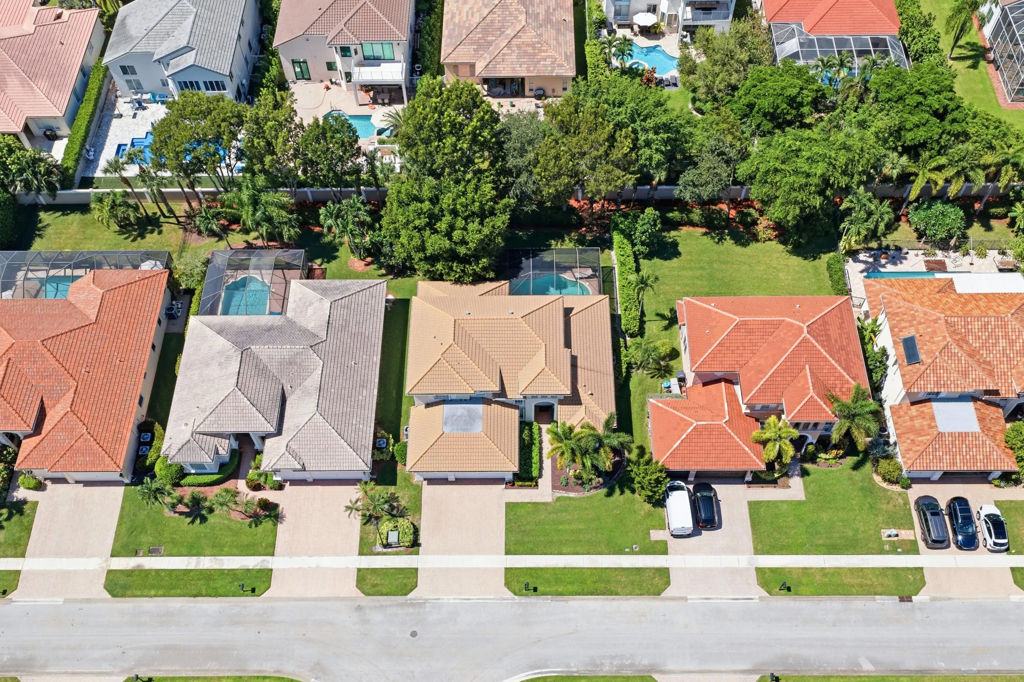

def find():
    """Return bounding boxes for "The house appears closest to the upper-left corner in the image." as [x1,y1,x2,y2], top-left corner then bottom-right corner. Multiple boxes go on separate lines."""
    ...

[0,0,103,143]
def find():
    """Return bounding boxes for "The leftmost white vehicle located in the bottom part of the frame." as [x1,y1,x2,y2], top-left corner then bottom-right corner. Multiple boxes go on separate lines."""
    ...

[665,485,692,540]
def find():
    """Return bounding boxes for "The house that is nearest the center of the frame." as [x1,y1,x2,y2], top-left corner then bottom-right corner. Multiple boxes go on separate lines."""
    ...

[404,279,618,482]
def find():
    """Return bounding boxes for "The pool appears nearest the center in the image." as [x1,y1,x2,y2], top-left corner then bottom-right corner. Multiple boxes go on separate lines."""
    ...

[509,272,594,295]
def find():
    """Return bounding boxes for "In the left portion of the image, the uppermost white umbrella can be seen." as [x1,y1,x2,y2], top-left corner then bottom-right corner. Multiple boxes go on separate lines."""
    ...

[371,113,390,133]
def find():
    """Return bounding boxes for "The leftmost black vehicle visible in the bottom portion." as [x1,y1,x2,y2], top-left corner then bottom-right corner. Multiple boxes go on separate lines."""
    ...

[693,484,718,534]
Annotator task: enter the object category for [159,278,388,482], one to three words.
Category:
house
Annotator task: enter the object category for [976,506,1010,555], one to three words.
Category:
car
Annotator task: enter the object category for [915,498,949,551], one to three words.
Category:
car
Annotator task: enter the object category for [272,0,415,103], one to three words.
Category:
house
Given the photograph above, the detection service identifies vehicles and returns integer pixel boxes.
[976,506,1010,555]
[693,484,718,534]
[945,499,978,551]
[915,498,949,551]
[665,485,692,540]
